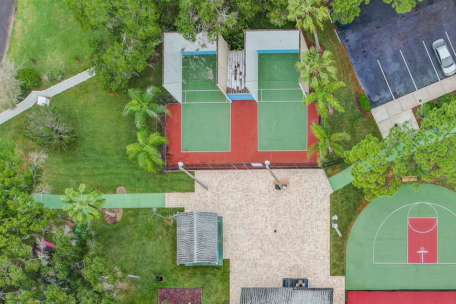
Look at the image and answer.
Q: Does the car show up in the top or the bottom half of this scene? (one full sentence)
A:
It is in the top half that the car appears.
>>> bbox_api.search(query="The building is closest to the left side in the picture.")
[176,210,223,265]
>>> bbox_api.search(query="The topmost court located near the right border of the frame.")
[345,183,456,289]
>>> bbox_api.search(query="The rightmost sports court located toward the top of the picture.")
[244,28,324,167]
